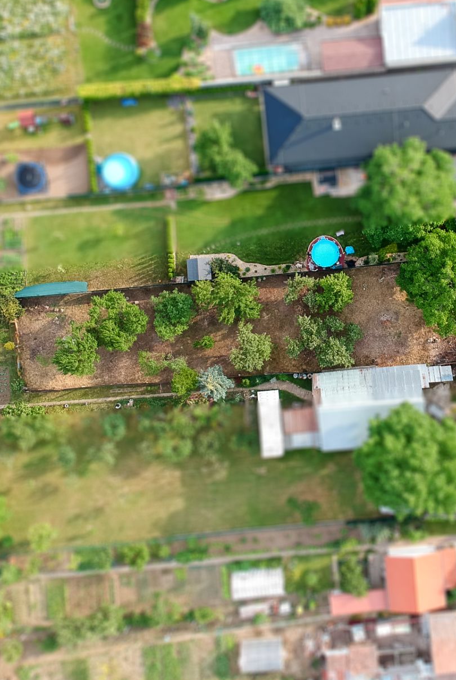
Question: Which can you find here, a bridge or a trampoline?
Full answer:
I can see a trampoline in this picture.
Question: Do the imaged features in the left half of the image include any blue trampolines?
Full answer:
Yes, a blue trampoline appears in the left half of the image.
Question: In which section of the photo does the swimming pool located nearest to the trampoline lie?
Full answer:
The swimming pool located nearest to the trampoline sits in the top left section of the image.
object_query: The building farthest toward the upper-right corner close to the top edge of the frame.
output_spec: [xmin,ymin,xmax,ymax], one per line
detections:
[380,0,456,71]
